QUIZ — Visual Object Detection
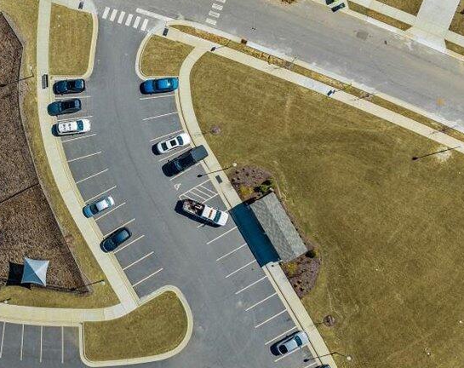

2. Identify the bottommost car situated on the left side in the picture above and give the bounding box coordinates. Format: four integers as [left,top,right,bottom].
[100,228,134,252]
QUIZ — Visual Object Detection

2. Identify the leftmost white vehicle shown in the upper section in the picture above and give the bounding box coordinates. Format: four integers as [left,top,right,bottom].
[59,118,92,135]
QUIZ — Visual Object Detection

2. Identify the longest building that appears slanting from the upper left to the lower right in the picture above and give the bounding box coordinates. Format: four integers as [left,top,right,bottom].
[246,193,308,263]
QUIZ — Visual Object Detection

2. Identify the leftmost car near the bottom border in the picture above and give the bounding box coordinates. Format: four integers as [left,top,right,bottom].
[278,333,311,355]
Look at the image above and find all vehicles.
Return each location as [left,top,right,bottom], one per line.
[142,78,179,94]
[158,133,192,154]
[82,196,116,218]
[59,118,92,135]
[165,144,213,175]
[53,79,85,95]
[100,228,134,252]
[181,198,230,223]
[278,333,311,355]
[47,99,82,116]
